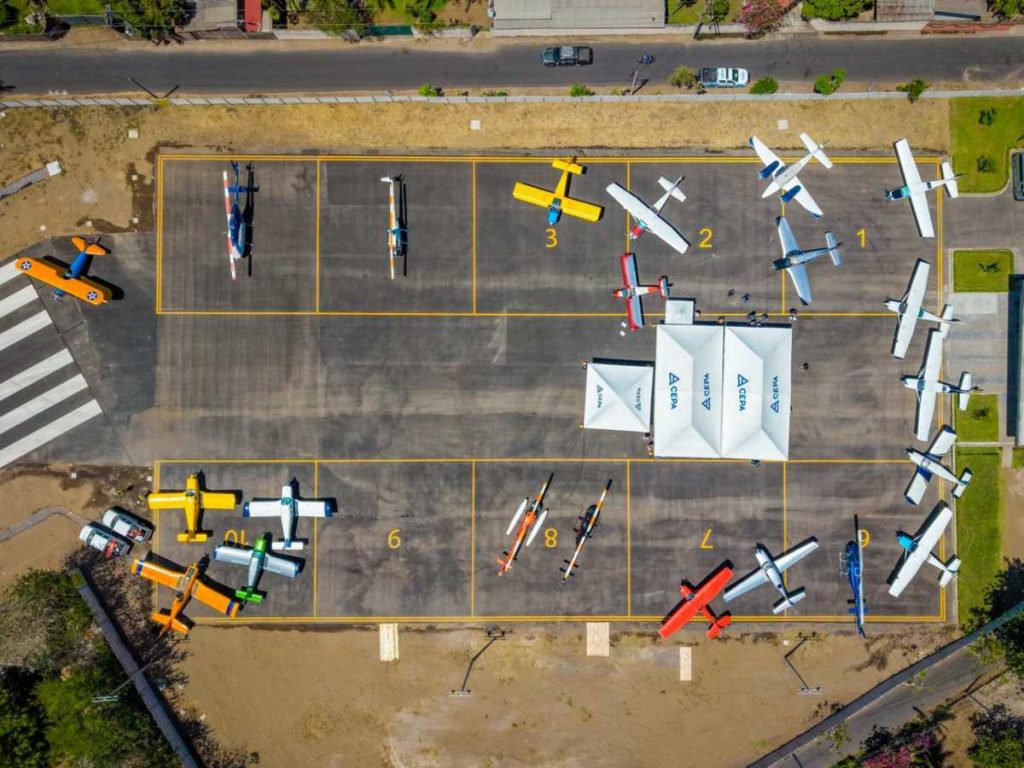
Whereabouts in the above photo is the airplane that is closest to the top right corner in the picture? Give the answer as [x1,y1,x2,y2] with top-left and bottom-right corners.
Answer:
[883,140,962,238]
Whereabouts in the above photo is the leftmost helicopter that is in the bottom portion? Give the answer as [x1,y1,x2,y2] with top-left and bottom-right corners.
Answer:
[495,482,548,582]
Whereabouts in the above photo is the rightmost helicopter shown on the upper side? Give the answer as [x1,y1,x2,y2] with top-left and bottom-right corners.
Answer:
[381,173,409,280]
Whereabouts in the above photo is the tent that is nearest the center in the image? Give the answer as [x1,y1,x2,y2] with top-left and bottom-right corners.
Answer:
[584,364,654,432]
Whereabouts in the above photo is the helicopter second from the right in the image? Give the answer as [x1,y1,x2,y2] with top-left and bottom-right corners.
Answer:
[560,489,607,589]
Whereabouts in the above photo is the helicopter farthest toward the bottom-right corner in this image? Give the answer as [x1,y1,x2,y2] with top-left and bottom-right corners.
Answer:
[839,530,871,642]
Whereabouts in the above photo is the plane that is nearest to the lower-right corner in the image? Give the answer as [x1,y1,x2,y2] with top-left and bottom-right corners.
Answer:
[889,508,961,596]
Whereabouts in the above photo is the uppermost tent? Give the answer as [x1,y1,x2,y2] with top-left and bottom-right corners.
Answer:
[662,300,694,326]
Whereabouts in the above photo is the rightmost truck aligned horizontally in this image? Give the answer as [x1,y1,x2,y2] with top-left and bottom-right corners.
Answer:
[697,65,749,90]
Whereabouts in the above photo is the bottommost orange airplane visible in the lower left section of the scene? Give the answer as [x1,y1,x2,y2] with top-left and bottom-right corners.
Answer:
[130,559,237,632]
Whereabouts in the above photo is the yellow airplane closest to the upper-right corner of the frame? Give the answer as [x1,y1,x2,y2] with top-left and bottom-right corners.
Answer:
[513,160,601,224]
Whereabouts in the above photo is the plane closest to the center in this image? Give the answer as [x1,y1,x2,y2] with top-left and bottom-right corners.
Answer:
[613,254,669,330]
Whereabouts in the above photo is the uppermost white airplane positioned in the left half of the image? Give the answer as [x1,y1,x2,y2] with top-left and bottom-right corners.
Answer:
[242,485,332,553]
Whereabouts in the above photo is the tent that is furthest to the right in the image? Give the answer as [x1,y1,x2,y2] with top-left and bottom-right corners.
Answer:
[721,326,792,460]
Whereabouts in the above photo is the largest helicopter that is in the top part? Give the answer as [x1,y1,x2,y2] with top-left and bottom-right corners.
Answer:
[225,151,255,280]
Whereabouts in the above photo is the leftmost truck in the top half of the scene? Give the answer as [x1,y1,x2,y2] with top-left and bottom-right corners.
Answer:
[541,44,593,69]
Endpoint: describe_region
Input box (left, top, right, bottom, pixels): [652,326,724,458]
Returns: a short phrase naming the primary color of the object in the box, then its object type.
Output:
white tent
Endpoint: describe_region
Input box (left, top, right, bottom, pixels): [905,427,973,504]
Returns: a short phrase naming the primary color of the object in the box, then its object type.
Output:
white airplane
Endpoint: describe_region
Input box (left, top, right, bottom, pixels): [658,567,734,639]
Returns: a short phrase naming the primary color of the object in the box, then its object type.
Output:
red airplane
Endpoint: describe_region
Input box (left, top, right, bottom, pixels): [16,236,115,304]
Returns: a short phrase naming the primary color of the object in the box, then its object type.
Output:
orange airplane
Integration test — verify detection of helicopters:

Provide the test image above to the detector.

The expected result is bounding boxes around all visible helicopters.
[225,151,255,280]
[381,173,409,280]
[560,489,607,589]
[839,530,871,642]
[495,482,548,582]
